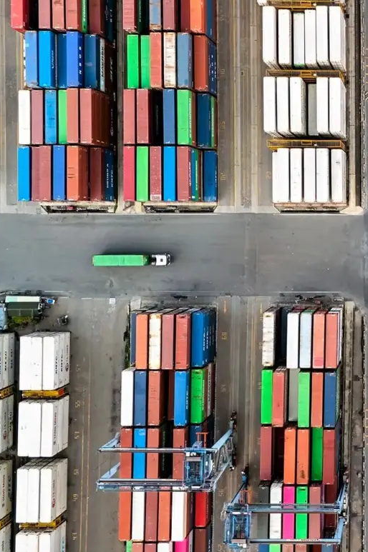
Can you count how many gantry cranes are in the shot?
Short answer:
2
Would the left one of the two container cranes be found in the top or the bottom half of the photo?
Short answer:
bottom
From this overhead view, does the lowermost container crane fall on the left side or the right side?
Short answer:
right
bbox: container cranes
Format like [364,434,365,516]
[222,461,353,548]
[101,411,238,492]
